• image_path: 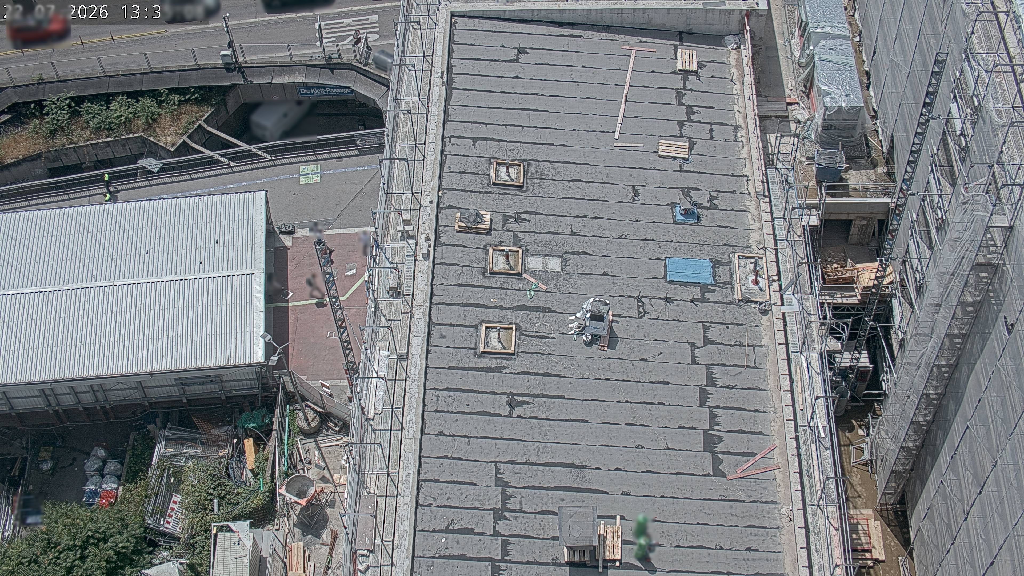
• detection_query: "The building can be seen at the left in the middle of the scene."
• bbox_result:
[0,189,273,438]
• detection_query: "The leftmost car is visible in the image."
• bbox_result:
[2,12,71,49]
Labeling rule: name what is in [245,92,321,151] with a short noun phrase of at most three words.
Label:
van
